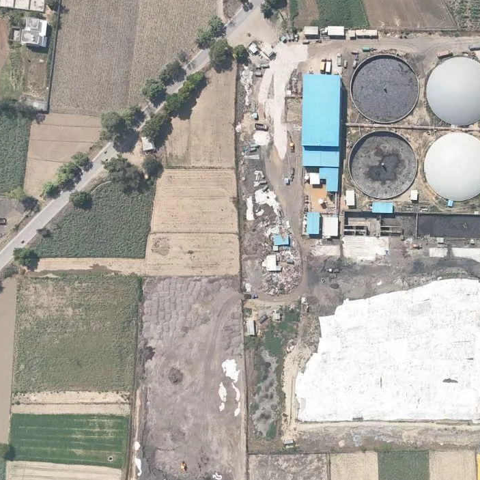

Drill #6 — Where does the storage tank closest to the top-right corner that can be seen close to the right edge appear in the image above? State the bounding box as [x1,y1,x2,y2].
[426,55,480,125]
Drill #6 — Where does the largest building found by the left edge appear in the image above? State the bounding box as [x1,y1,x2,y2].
[21,17,52,49]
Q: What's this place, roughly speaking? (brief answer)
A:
industrial area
